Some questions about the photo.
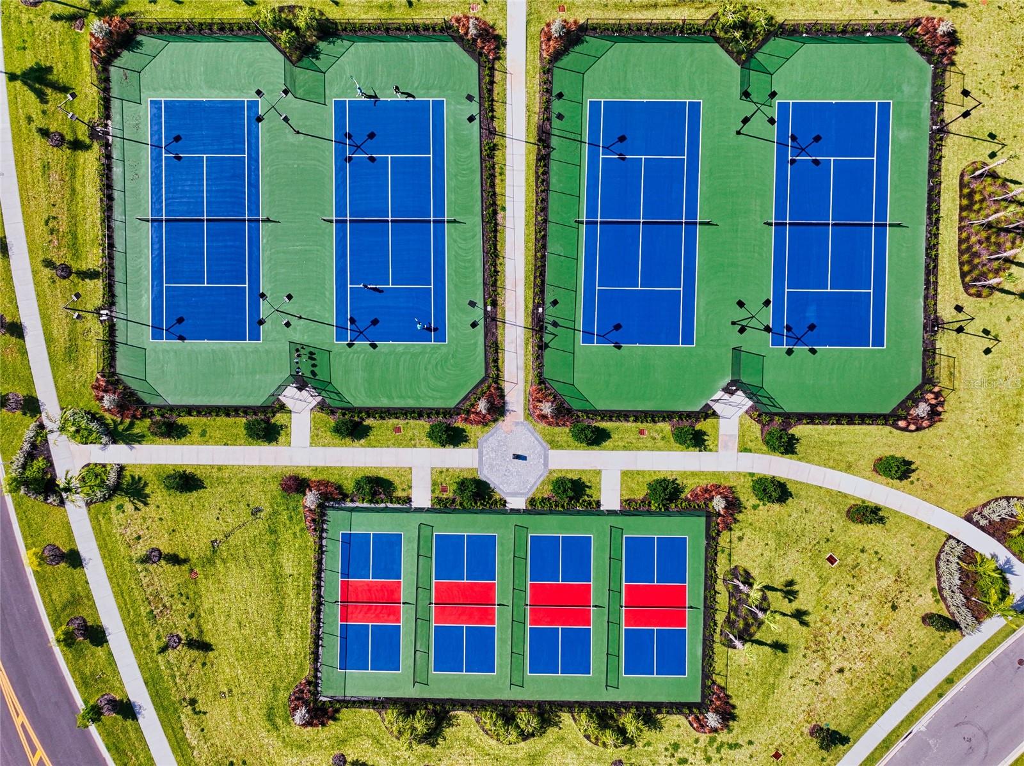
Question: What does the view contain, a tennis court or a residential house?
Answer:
tennis court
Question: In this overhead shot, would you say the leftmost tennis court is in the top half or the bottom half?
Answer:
top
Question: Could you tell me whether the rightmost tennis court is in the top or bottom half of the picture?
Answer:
top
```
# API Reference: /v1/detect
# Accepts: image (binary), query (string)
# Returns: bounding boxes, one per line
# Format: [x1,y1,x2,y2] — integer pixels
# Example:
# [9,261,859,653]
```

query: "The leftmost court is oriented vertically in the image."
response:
[111,34,300,406]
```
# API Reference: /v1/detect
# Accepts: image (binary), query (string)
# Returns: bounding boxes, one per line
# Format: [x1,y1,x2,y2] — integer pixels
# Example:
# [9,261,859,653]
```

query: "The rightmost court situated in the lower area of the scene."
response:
[605,509,705,702]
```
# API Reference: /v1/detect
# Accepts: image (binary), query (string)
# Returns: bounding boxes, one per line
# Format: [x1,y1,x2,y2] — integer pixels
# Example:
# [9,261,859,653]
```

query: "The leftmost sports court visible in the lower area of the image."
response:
[320,506,421,698]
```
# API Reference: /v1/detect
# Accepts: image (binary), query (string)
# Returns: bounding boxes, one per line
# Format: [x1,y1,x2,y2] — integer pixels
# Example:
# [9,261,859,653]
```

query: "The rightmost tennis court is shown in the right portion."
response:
[732,35,931,413]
